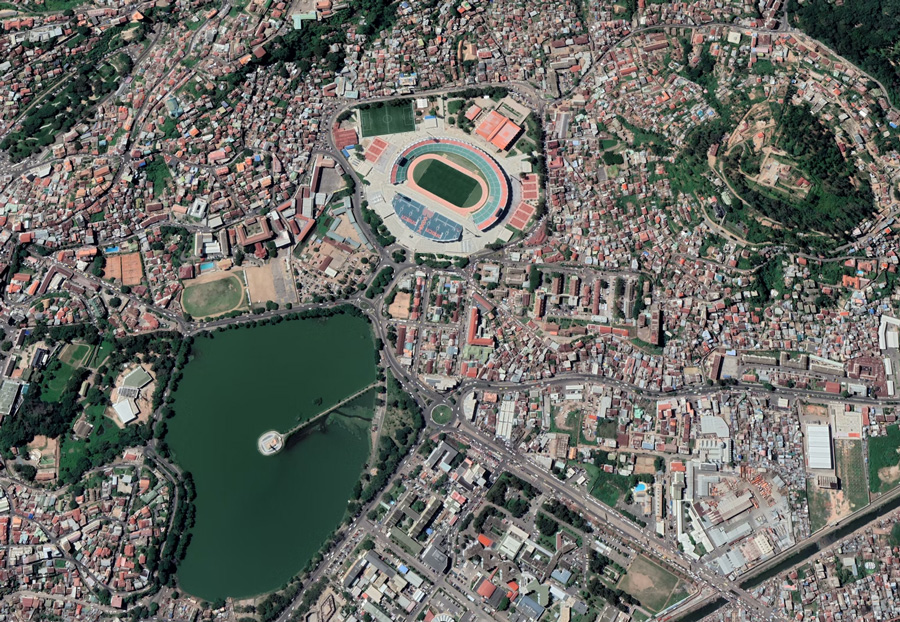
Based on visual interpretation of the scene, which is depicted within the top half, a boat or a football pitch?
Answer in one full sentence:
There is a football pitch within the top half.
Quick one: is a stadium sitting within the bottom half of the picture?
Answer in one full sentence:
No, within the bottom half of the picture there is no stadium.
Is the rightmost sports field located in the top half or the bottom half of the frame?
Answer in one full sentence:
It is in the bottom half that the rightmost sports field appears.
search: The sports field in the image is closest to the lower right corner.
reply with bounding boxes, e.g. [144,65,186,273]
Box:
[618,556,670,611]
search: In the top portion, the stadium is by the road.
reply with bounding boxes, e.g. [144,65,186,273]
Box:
[388,137,508,243]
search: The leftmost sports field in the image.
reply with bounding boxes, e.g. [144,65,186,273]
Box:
[180,276,244,319]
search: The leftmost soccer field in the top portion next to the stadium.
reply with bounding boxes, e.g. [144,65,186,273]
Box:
[359,103,417,139]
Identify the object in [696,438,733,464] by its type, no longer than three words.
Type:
building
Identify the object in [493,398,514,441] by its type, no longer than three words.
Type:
building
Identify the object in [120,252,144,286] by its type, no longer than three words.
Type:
tennis court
